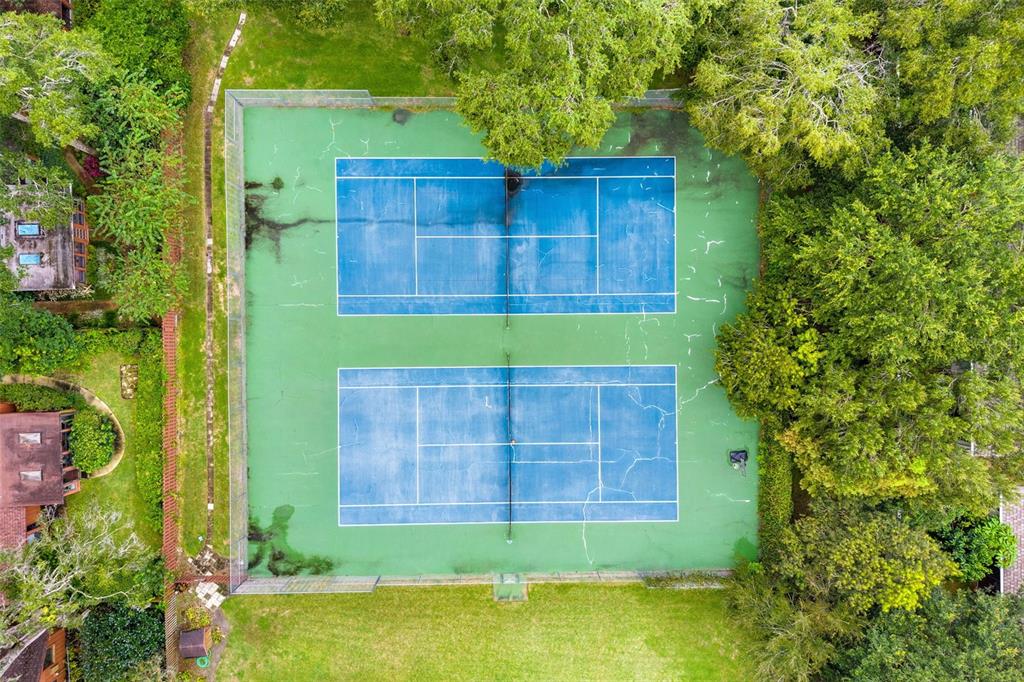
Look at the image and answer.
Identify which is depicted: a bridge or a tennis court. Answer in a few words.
tennis court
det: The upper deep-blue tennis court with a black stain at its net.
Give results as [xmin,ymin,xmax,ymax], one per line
[336,156,678,316]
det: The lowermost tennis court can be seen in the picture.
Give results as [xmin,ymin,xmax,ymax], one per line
[337,365,679,526]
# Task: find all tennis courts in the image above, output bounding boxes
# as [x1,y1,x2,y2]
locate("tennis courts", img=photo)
[337,365,679,526]
[336,156,678,316]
